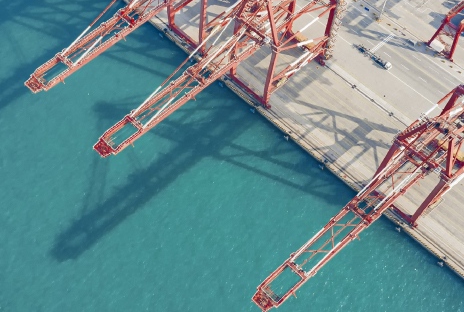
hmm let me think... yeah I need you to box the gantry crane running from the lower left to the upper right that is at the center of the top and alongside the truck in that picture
[93,0,345,159]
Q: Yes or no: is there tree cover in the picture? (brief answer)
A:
No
